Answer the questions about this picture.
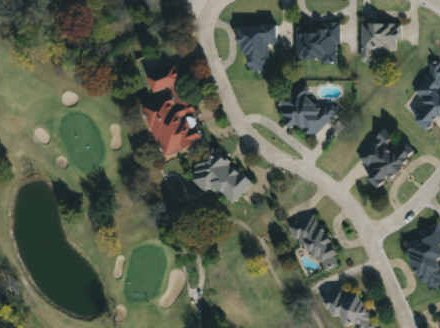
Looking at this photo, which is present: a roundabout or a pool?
pool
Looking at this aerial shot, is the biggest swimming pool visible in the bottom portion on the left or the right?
right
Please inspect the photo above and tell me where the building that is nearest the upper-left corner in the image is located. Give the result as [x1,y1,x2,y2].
[144,64,203,160]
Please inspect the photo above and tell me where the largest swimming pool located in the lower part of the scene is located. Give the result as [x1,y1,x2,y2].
[296,247,320,276]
